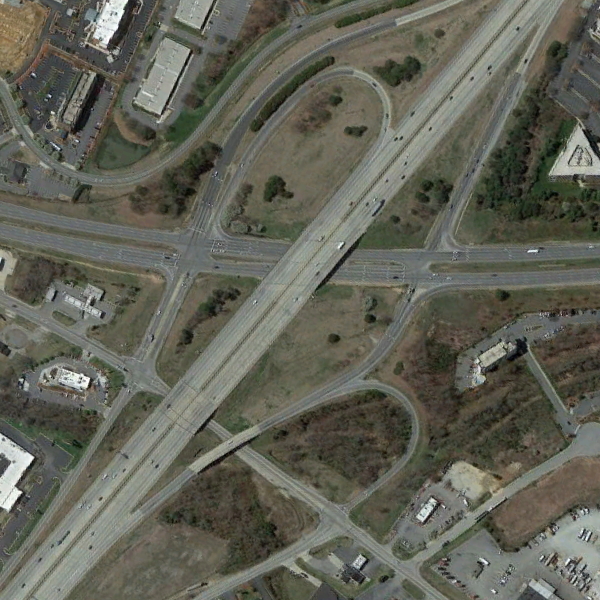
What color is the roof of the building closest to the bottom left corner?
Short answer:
white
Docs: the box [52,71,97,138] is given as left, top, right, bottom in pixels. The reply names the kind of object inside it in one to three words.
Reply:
building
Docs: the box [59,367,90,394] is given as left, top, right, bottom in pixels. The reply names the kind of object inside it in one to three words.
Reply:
building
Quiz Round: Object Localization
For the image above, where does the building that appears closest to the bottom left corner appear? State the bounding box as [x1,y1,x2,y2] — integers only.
[0,433,36,514]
